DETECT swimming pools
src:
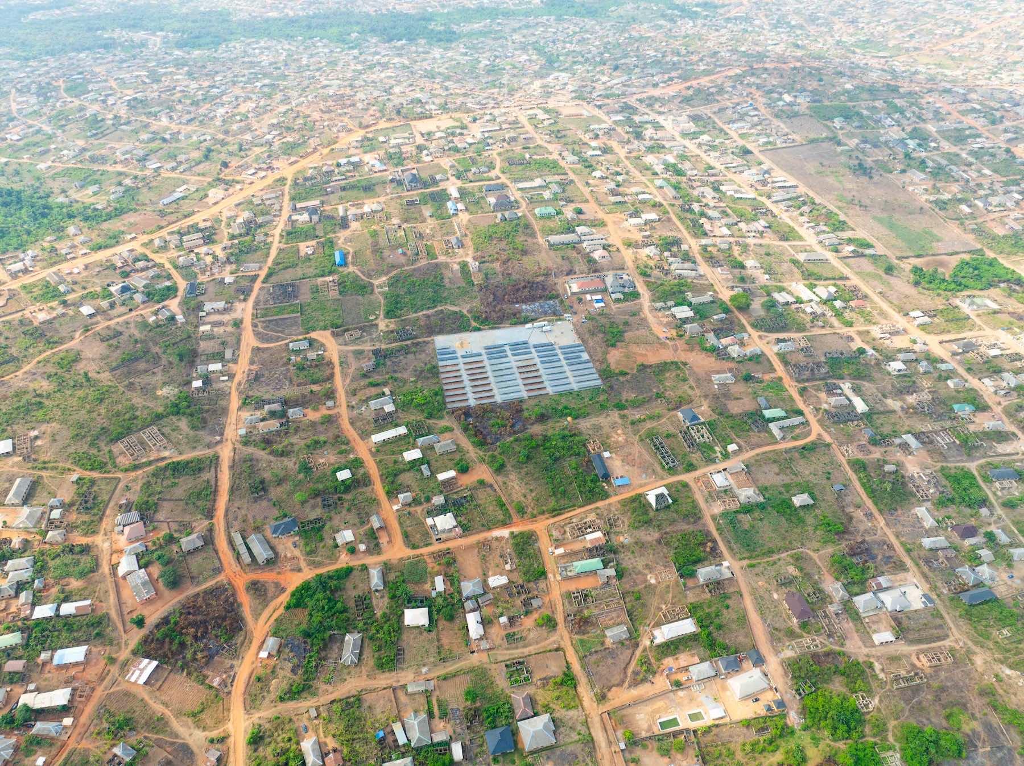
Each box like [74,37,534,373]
[657,715,682,732]
[686,709,707,723]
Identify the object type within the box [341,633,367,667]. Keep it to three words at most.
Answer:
house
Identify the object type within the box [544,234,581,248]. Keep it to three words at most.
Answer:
house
